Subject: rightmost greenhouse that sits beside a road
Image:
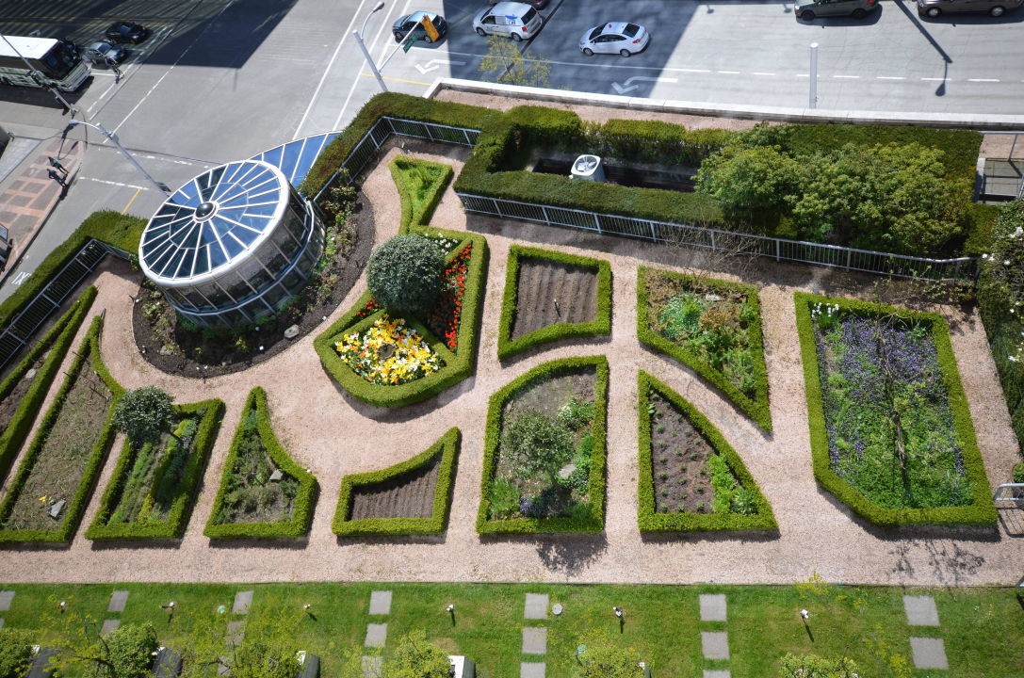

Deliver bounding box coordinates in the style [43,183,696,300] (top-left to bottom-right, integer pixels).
[141,156,325,329]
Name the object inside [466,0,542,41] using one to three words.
vehicle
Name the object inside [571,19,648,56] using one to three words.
car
